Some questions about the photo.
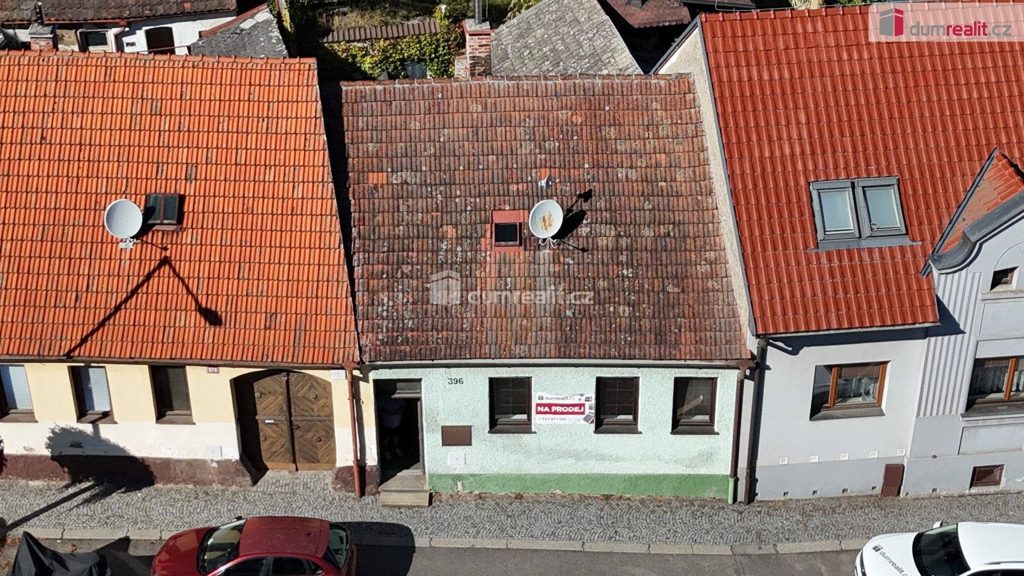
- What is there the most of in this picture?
buildings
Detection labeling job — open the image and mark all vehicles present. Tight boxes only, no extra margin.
[149,514,361,576]
[855,517,1024,576]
